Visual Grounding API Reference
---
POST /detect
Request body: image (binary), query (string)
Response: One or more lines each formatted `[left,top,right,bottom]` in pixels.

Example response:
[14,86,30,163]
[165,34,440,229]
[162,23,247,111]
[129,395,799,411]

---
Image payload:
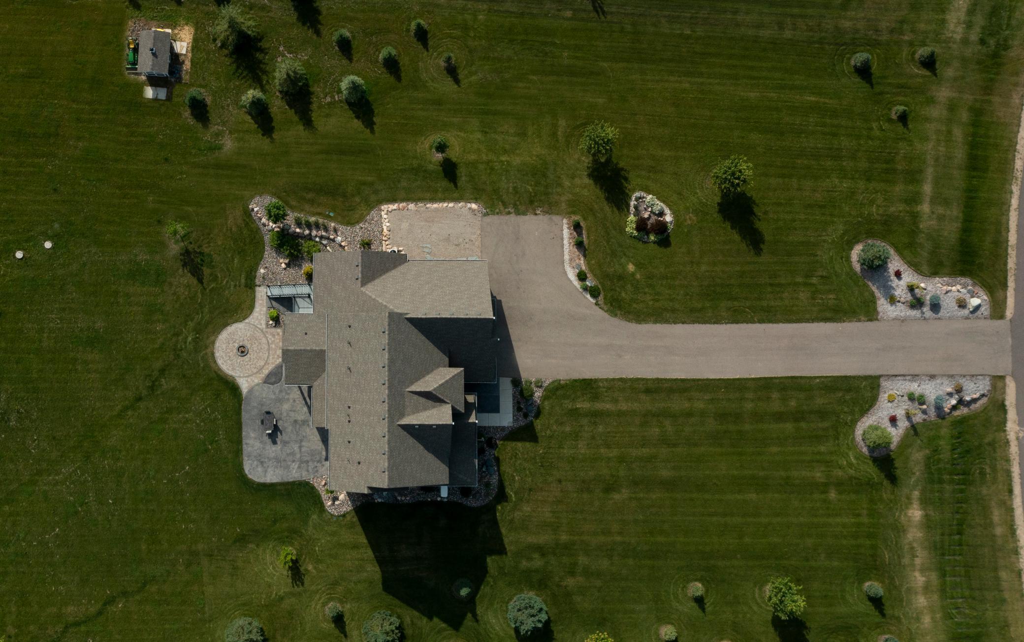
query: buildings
[137,28,172,79]
[283,250,501,494]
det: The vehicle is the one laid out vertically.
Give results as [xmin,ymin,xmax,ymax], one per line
[123,39,139,76]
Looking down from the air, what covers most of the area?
grass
